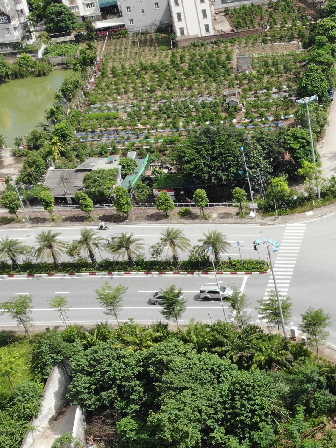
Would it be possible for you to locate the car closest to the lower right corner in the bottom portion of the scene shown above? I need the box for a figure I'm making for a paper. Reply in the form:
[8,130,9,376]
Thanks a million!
[197,285,232,301]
